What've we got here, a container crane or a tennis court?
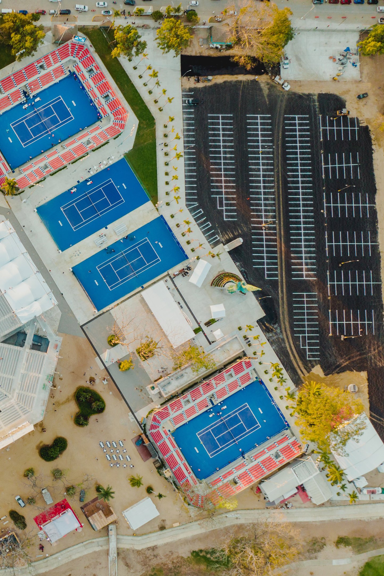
tennis court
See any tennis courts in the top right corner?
No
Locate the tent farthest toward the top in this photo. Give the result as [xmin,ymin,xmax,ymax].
[186,260,212,287]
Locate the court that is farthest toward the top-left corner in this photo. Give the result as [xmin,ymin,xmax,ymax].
[0,71,102,170]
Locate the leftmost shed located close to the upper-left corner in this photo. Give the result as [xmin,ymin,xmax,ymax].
[52,24,78,45]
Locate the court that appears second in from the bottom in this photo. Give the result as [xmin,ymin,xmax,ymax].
[72,215,189,311]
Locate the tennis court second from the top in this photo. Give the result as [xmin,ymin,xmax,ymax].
[36,158,152,251]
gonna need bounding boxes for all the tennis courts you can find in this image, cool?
[72,215,189,311]
[0,71,102,170]
[36,158,152,251]
[172,379,288,480]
